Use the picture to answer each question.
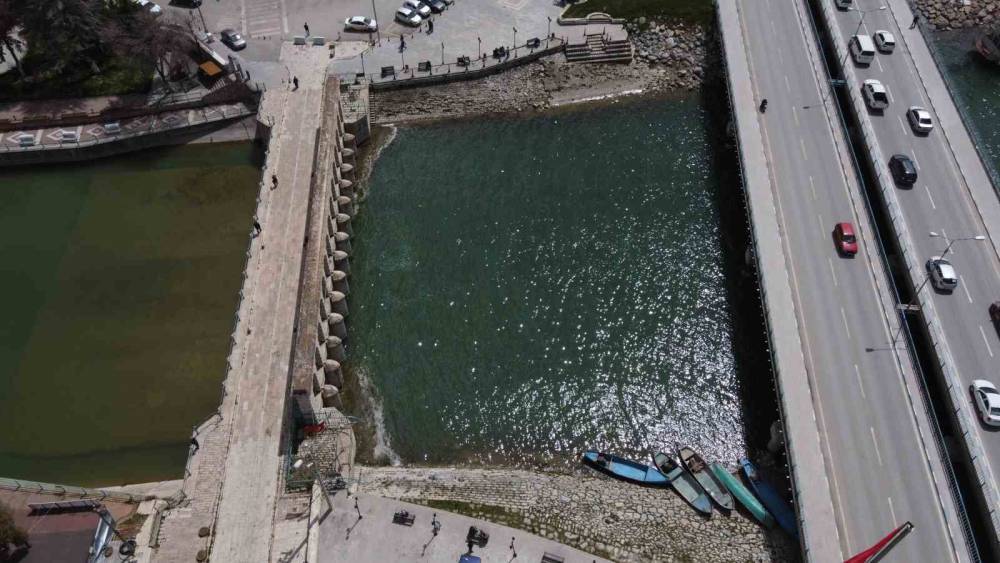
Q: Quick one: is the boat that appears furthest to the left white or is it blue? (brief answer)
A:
blue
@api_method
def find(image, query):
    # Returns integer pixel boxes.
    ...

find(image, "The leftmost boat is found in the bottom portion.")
[582,453,673,487]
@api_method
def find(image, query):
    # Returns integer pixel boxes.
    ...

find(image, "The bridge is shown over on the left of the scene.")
[150,42,369,563]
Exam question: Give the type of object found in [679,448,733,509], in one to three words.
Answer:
boat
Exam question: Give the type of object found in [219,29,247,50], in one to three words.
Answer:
car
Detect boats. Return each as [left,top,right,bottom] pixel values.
[738,458,800,538]
[679,448,733,509]
[582,453,673,487]
[710,461,775,527]
[652,453,711,515]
